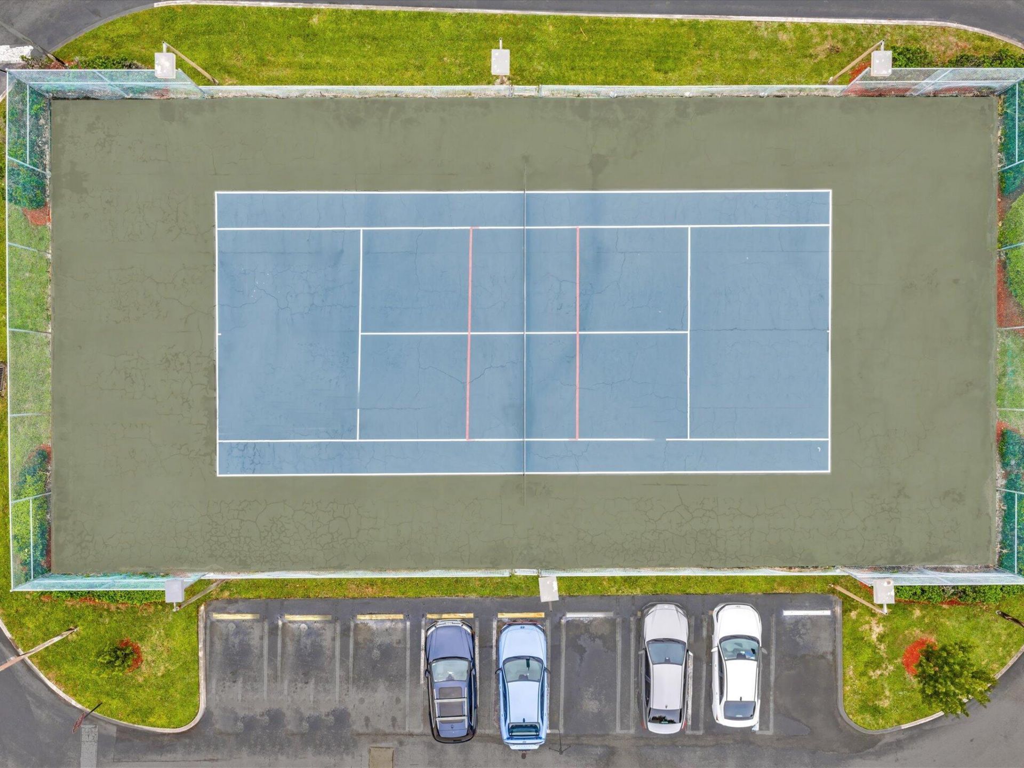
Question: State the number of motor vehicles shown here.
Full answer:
The count of motor vehicles comes to 4.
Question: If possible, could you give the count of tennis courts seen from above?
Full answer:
There is 1 tennis court in the image.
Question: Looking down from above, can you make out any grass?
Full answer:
Yes, grass shows up in the scene.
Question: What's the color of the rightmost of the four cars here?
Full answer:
In this view, the rightmost of the four cars is white.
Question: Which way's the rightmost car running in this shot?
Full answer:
The rightmost car has been laid out vertically relative to the frame.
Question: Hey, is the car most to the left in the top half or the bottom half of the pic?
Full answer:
The car most to the left is in the bottom half of the image.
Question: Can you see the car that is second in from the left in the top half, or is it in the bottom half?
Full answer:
Seen from above, the car that is second in from the left lies in the bottom half of the view.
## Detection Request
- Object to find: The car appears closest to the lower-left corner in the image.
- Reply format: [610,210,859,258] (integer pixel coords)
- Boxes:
[421,617,479,740]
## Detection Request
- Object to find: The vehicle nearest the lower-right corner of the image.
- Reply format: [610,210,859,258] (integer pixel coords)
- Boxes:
[709,601,768,725]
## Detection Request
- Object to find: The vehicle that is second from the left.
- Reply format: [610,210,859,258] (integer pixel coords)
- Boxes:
[495,620,552,756]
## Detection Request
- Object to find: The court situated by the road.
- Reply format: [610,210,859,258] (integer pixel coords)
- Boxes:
[48,95,1000,574]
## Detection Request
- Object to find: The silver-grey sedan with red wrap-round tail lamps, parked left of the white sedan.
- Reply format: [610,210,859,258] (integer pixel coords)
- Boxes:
[638,600,696,731]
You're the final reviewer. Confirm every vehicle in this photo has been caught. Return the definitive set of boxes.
[421,617,479,740]
[638,600,696,731]
[495,620,552,756]
[709,601,768,725]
